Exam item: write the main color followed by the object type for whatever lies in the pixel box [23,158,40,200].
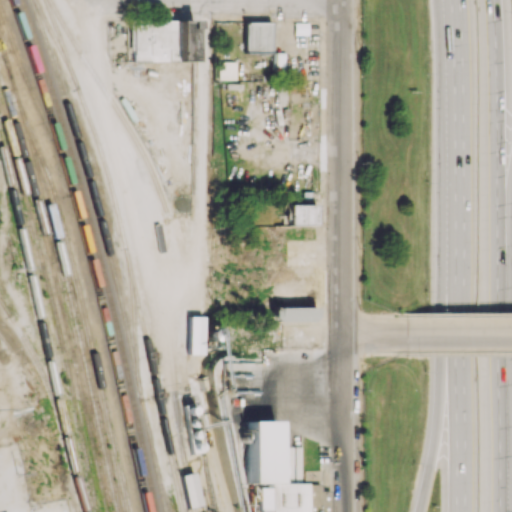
gray rail car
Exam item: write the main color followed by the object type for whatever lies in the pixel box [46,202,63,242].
white rail car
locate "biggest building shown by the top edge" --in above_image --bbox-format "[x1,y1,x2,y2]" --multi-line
[135,20,181,62]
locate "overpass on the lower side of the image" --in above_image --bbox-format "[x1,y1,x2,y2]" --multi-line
[402,314,512,352]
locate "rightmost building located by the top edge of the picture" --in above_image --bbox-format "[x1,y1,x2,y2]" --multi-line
[244,22,276,54]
